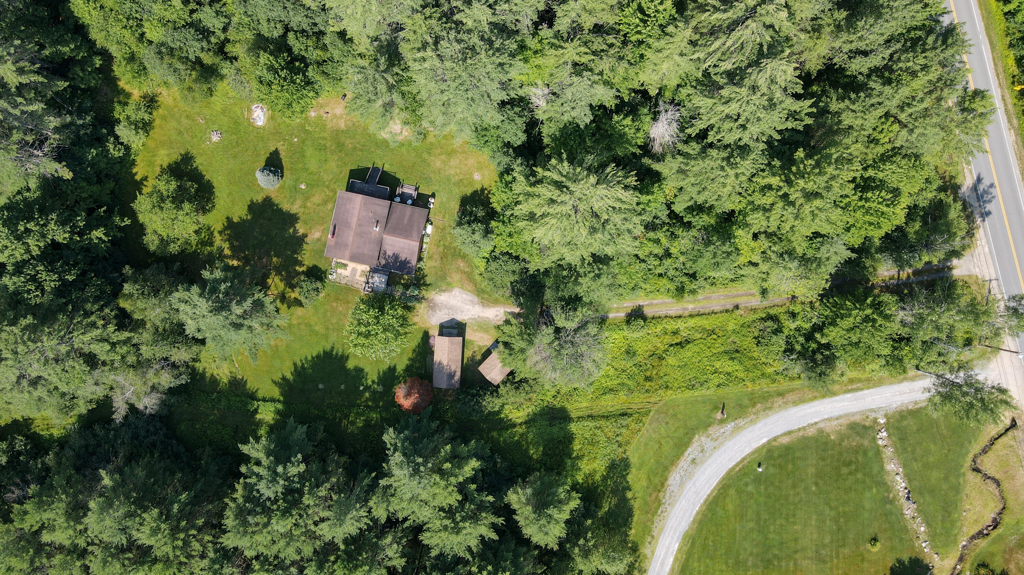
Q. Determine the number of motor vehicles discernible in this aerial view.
none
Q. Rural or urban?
rural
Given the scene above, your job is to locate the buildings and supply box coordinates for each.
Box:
[325,166,429,293]
[478,347,512,386]
[432,324,463,389]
